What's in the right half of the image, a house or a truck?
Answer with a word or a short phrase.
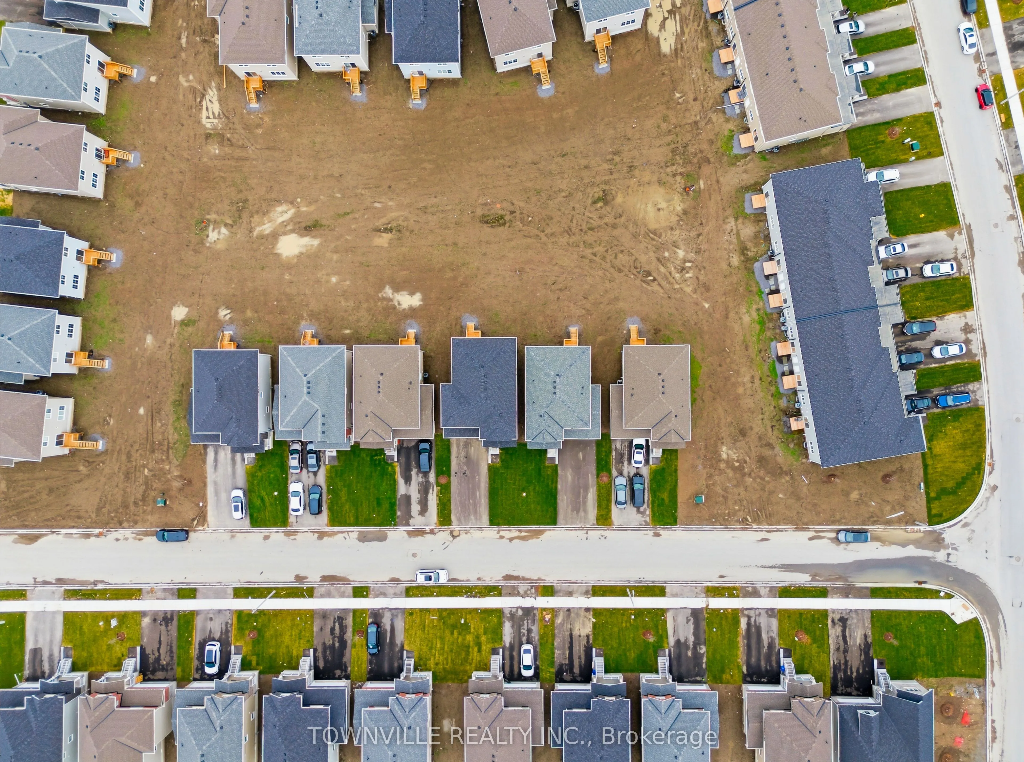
house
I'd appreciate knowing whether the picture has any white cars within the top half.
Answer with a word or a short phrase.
Yes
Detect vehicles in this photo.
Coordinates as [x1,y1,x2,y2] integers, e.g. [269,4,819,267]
[930,342,966,359]
[287,440,304,473]
[229,488,248,520]
[203,641,222,675]
[882,266,913,282]
[844,59,874,76]
[921,261,957,277]
[902,320,938,337]
[630,474,647,508]
[961,0,980,16]
[897,351,925,366]
[613,475,629,508]
[156,528,190,544]
[867,167,901,183]
[836,529,871,545]
[834,16,866,34]
[956,22,977,56]
[974,83,994,111]
[304,442,322,473]
[289,481,305,515]
[415,568,449,585]
[520,643,535,677]
[906,396,935,413]
[631,439,646,469]
[307,484,324,516]
[416,440,433,473]
[878,243,909,259]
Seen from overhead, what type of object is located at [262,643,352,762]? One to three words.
house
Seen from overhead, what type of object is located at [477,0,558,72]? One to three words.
house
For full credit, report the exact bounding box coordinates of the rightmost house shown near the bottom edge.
[832,659,934,762]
